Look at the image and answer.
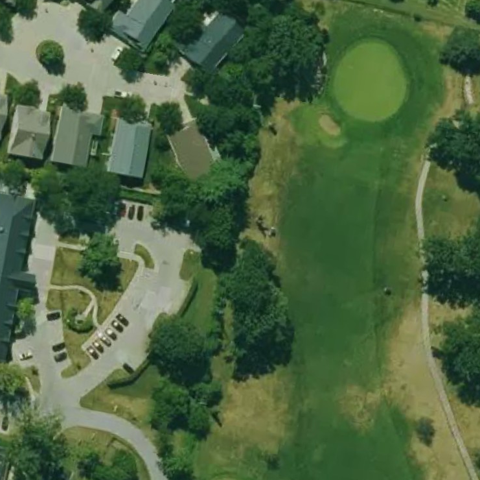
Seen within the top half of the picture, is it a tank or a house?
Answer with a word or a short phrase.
house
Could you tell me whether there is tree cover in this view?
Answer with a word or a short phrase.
Yes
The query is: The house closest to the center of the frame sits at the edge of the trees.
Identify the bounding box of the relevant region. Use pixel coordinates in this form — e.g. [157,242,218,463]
[168,123,213,178]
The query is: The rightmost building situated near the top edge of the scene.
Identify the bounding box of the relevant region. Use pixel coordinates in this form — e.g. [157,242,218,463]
[182,11,243,73]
